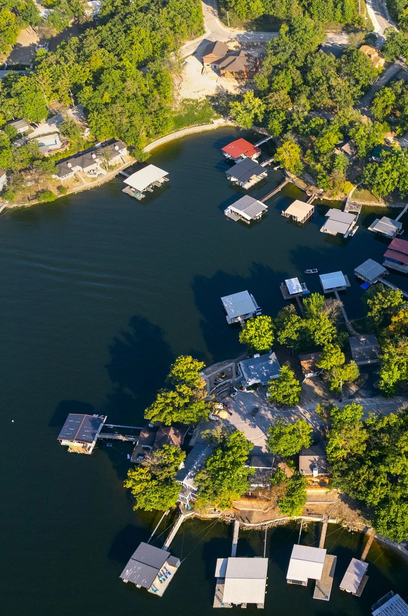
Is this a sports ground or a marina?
marina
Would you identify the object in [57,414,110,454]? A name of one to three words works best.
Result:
pier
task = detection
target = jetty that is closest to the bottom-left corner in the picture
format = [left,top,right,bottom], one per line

[120,543,182,596]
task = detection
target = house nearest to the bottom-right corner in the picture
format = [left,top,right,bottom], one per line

[299,447,331,478]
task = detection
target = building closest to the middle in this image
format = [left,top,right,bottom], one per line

[239,352,280,390]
